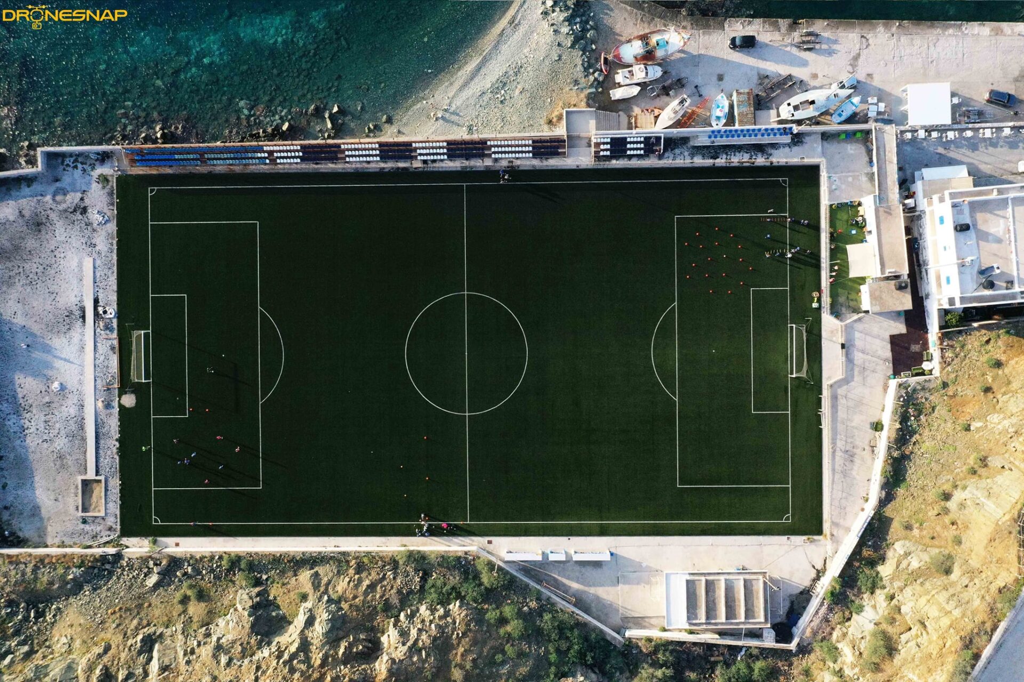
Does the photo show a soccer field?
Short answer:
Yes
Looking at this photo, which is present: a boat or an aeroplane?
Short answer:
boat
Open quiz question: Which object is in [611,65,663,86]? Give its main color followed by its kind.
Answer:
white boat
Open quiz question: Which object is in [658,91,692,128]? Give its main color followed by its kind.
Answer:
white boat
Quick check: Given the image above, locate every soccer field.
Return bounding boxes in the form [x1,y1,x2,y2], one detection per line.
[115,165,822,537]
